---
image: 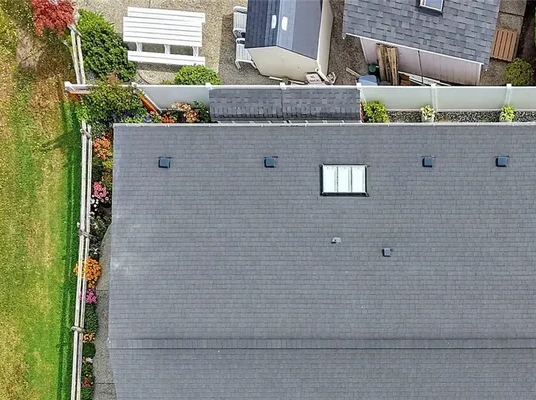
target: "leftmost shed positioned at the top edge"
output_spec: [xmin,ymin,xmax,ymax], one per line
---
[245,0,328,86]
